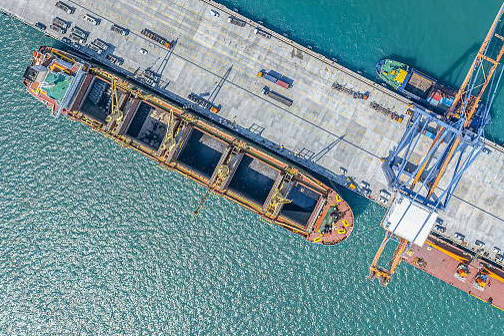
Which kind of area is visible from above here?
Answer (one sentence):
The area seen from above is a port.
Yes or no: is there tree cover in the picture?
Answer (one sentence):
No, no tree cover is visible.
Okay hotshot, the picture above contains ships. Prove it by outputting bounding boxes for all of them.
[402,231,504,310]
[376,59,495,130]
[16,47,355,245]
